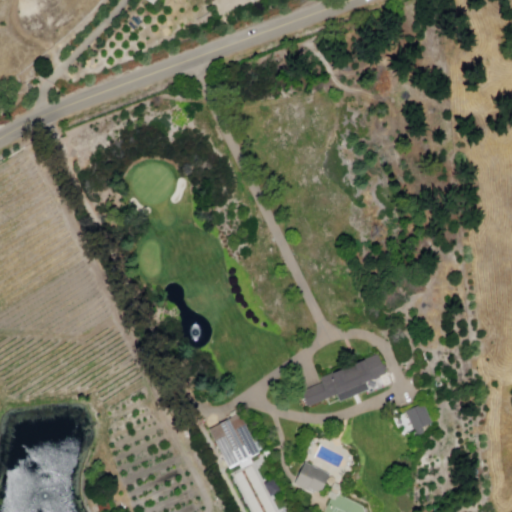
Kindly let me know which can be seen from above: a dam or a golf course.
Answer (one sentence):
I can see a golf course in this picture.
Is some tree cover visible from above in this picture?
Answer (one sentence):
Yes, there's tree cover in this view.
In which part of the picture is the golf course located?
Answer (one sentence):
The golf course appears toward the center of the photo.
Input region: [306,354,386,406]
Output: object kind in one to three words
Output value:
house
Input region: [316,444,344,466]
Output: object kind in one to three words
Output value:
swimming pool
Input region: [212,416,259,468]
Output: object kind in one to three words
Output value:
greenhouse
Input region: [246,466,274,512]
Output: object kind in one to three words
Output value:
greenhouse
